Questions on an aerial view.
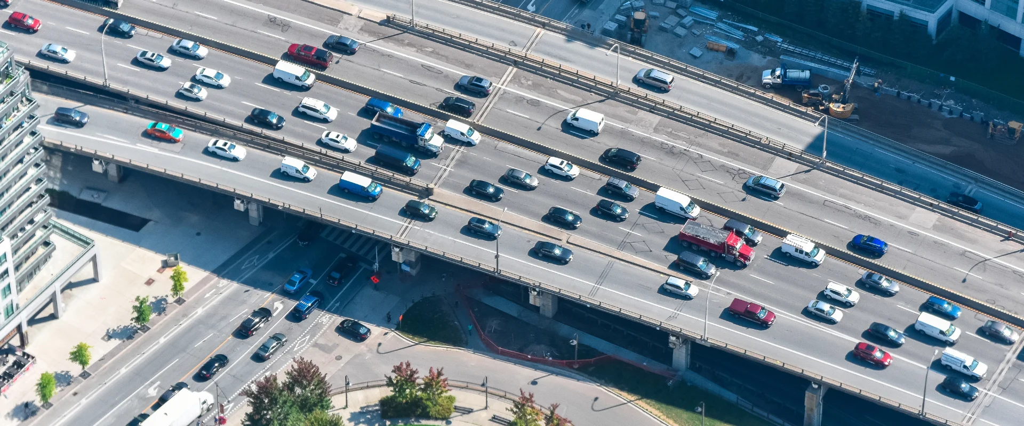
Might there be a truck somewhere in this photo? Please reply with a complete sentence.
Yes, I can see a truck in this picture.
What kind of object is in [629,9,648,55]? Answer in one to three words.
work vehicle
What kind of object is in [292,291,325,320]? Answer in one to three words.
car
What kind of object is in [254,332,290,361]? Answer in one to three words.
car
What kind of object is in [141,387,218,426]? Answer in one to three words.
truck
